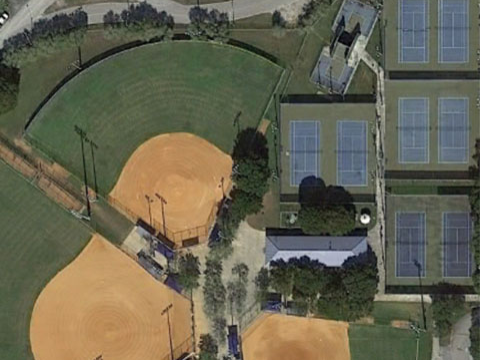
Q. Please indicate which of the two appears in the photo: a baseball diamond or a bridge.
baseball diamond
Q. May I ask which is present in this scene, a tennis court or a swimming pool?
tennis court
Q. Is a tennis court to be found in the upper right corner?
Yes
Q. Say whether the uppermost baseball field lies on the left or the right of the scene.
left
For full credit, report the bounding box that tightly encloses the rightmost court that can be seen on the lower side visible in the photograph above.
[434,195,476,293]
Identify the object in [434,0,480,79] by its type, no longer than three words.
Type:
tennis court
